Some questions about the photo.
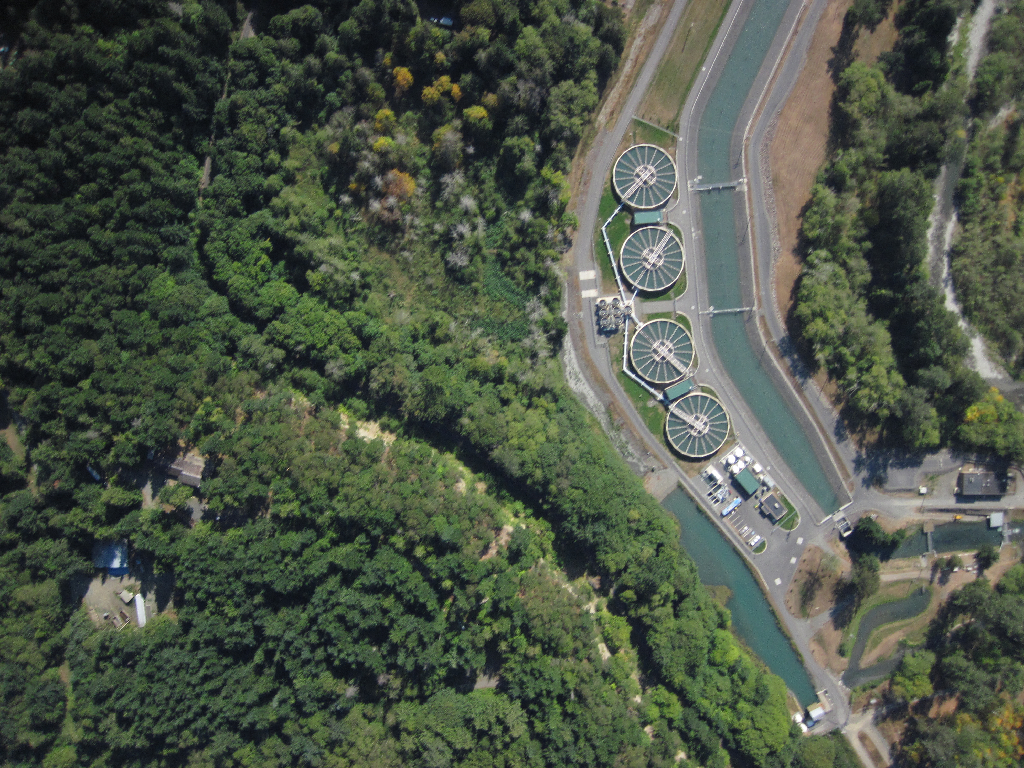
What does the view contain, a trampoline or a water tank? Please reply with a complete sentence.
This aerial view contains a water tank.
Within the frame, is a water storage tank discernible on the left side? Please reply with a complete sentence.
No, there's no water storage tank to be seen on the left side.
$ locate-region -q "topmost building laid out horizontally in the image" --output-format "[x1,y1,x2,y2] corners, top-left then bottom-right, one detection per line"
[633,211,663,225]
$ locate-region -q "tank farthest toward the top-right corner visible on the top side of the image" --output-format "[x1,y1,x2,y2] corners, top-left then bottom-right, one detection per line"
[612,144,677,209]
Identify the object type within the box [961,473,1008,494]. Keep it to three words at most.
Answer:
building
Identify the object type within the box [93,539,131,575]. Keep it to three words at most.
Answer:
barn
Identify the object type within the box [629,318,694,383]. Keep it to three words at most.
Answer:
water tank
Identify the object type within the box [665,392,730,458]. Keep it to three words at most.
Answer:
water tank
